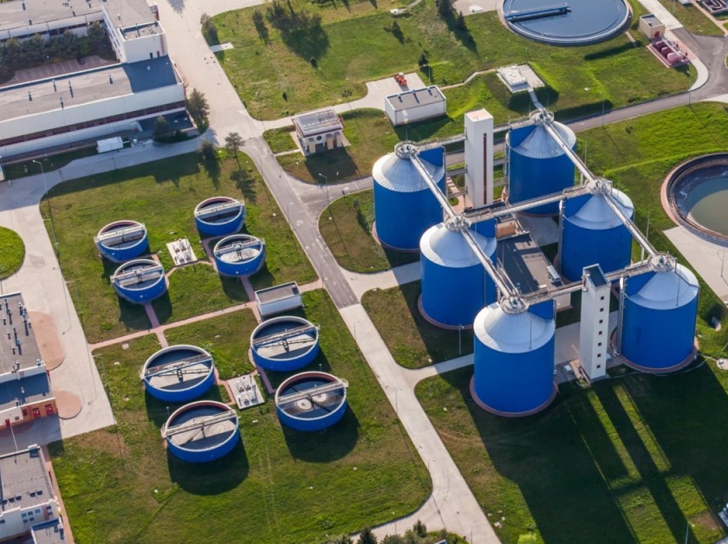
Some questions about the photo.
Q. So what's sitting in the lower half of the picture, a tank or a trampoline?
tank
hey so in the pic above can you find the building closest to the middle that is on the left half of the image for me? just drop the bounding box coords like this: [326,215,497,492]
[253,282,304,318]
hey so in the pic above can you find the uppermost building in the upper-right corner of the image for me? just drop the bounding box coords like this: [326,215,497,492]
[639,13,667,39]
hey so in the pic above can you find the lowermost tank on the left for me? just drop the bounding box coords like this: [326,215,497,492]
[158,406,244,469]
